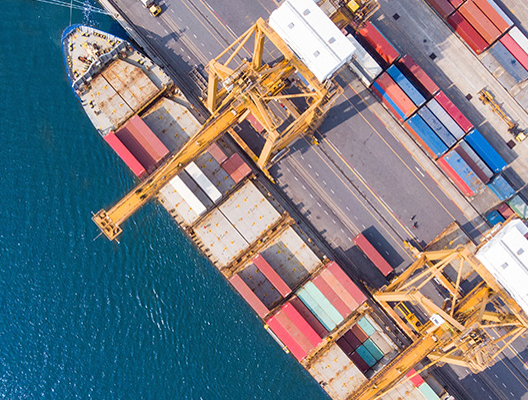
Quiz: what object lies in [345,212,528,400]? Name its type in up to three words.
container crane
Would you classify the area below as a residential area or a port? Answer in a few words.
port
